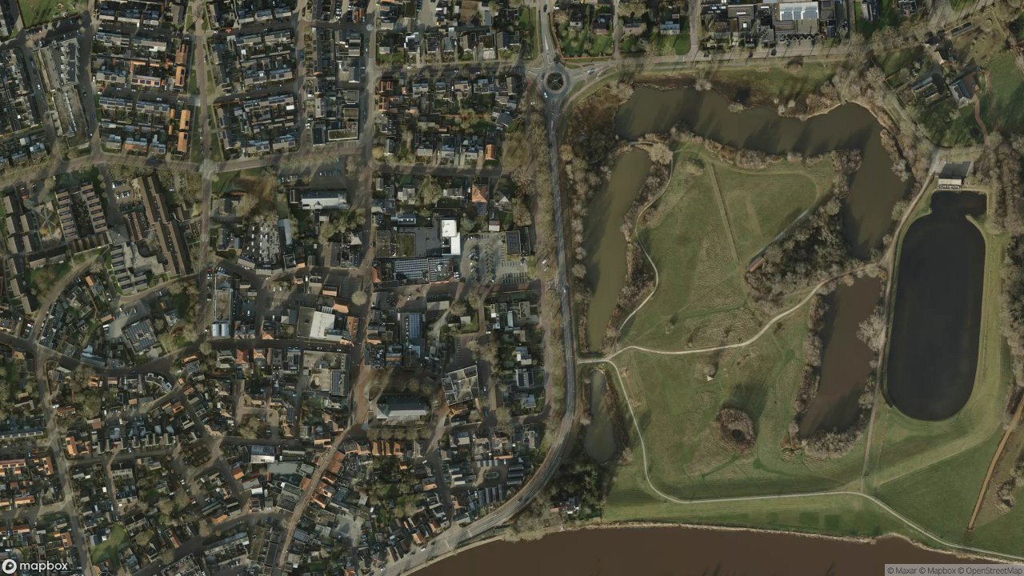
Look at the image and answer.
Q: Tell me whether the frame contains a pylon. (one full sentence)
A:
No, the frame has no pylon in it.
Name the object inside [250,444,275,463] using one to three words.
building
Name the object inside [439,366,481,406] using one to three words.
building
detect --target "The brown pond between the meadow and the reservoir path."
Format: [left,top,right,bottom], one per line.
[801,277,882,437]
